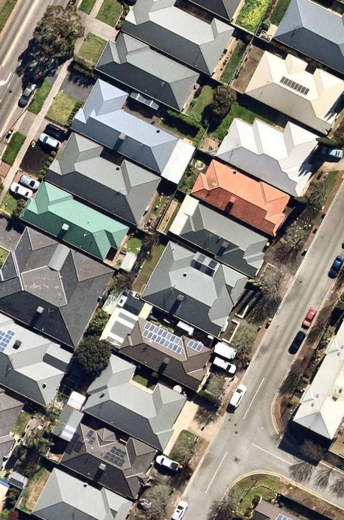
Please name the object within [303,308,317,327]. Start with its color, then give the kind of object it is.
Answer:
red vehicle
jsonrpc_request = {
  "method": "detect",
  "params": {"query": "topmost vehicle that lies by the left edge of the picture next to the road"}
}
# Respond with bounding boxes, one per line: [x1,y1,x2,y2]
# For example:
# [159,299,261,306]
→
[17,83,34,107]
